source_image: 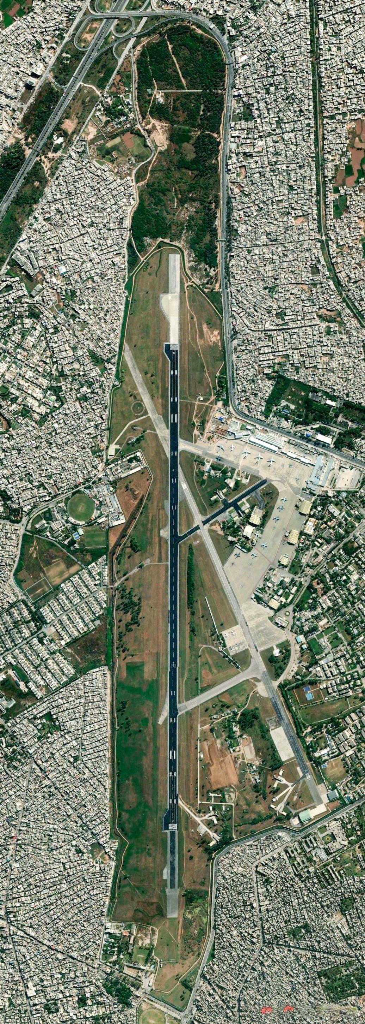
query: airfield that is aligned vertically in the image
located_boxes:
[108,254,330,917]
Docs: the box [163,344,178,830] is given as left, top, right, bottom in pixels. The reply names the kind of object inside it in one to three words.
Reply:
runway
